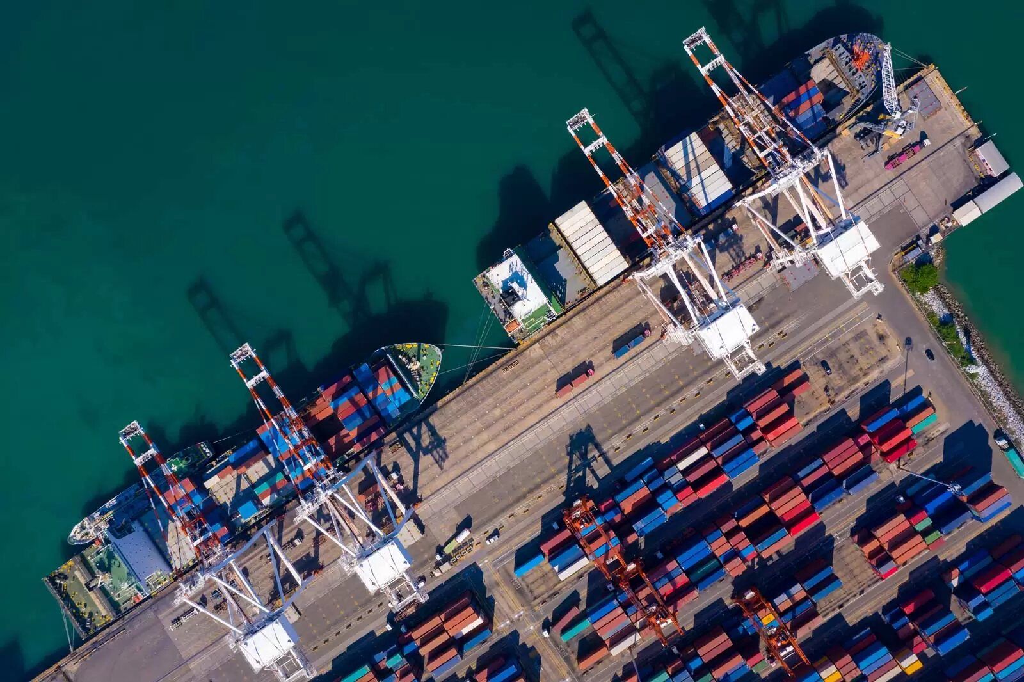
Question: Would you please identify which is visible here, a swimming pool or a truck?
truck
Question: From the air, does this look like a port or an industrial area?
port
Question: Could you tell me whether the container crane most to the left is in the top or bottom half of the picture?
bottom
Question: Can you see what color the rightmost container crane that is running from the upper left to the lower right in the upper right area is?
white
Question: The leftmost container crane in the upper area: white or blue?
white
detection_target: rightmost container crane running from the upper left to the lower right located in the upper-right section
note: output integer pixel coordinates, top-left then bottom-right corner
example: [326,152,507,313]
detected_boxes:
[684,25,891,297]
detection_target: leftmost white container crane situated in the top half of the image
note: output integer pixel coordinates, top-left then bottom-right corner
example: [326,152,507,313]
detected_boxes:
[566,106,772,378]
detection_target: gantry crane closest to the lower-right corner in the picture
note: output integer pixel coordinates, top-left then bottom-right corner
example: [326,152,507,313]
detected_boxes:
[730,582,815,680]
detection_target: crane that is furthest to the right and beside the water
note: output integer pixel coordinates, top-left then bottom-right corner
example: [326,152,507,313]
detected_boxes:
[863,42,928,159]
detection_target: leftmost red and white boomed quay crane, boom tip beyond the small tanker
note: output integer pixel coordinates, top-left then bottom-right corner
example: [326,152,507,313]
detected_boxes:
[119,420,320,682]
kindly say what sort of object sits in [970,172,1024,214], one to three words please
shed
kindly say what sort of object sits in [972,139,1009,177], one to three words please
shed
